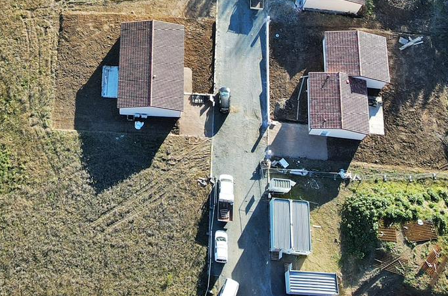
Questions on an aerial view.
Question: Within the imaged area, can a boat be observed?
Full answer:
No, the photo shows no boat.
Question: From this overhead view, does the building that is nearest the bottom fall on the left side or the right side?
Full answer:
You can find the building that is nearest the bottom on the right side of the picture.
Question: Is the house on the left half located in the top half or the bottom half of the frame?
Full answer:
The house on the left half is in the top half of the image.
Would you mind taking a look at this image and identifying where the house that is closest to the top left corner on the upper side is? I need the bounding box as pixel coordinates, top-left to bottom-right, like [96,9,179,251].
[116,20,185,115]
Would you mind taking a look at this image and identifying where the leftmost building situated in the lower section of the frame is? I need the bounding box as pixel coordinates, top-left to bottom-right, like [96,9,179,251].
[268,199,292,253]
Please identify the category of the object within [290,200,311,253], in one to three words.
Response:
building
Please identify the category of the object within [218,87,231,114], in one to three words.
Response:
vehicle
